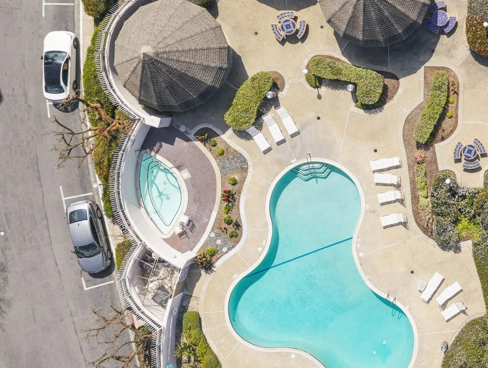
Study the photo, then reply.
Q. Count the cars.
two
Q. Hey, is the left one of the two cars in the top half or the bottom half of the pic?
top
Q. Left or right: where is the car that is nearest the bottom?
left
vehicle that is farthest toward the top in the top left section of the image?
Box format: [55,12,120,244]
[40,31,79,102]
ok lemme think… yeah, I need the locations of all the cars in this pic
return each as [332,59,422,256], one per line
[66,197,111,274]
[40,31,79,102]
